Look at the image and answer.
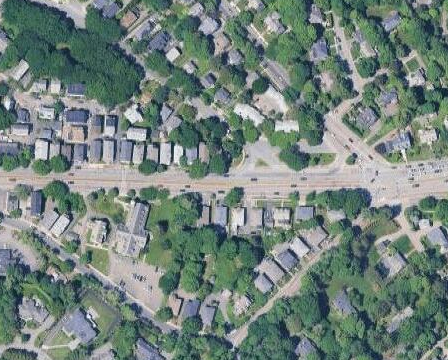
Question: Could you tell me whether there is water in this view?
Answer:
No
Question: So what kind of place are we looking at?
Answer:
residential area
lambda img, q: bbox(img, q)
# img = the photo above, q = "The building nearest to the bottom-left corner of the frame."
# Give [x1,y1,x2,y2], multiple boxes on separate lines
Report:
[18,293,52,326]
